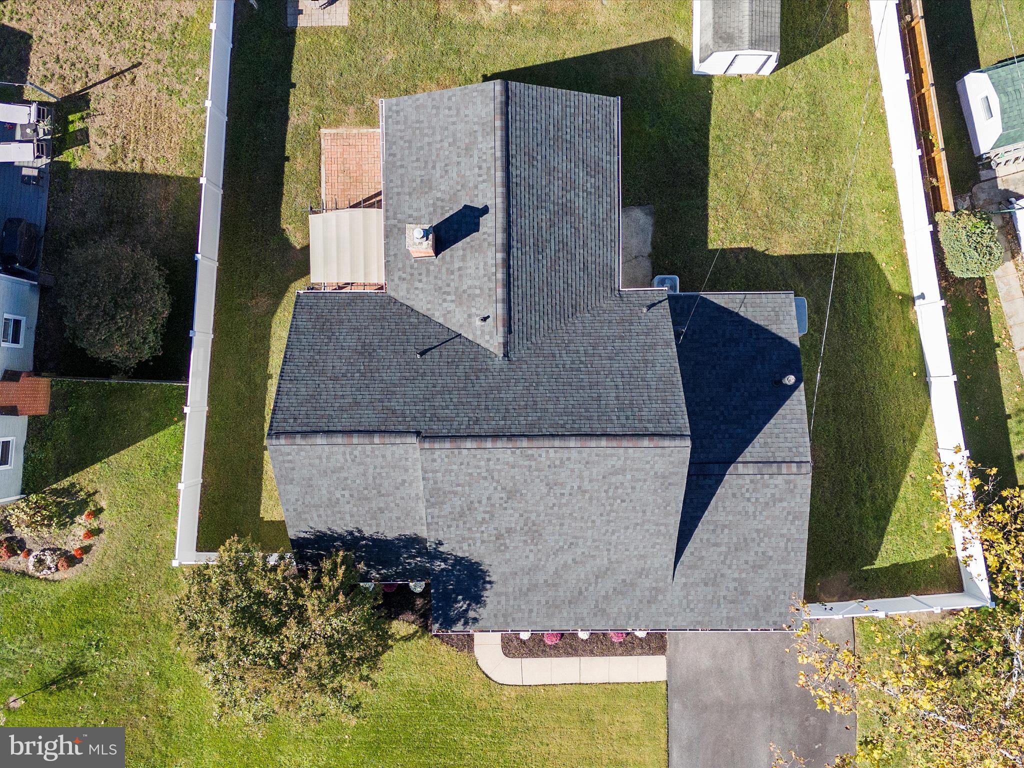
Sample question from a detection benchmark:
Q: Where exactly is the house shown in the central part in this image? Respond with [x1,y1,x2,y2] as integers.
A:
[268,80,811,636]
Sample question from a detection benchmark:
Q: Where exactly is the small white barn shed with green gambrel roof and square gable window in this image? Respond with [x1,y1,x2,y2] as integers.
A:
[955,57,1024,157]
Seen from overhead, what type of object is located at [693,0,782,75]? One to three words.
shed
